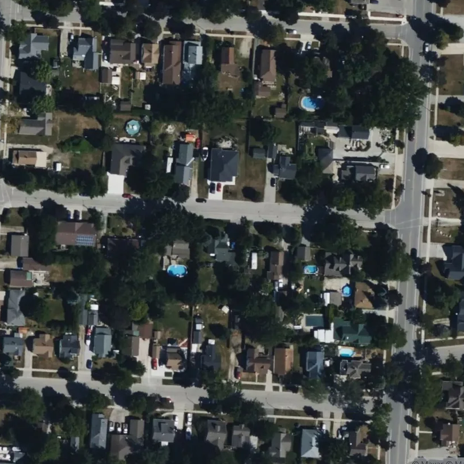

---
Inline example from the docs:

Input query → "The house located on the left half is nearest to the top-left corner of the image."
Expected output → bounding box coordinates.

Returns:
[19,34,48,59]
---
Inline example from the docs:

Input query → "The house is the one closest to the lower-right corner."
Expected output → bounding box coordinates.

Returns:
[440,423,460,445]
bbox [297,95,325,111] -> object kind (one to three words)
swimming pool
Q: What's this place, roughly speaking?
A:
residential area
